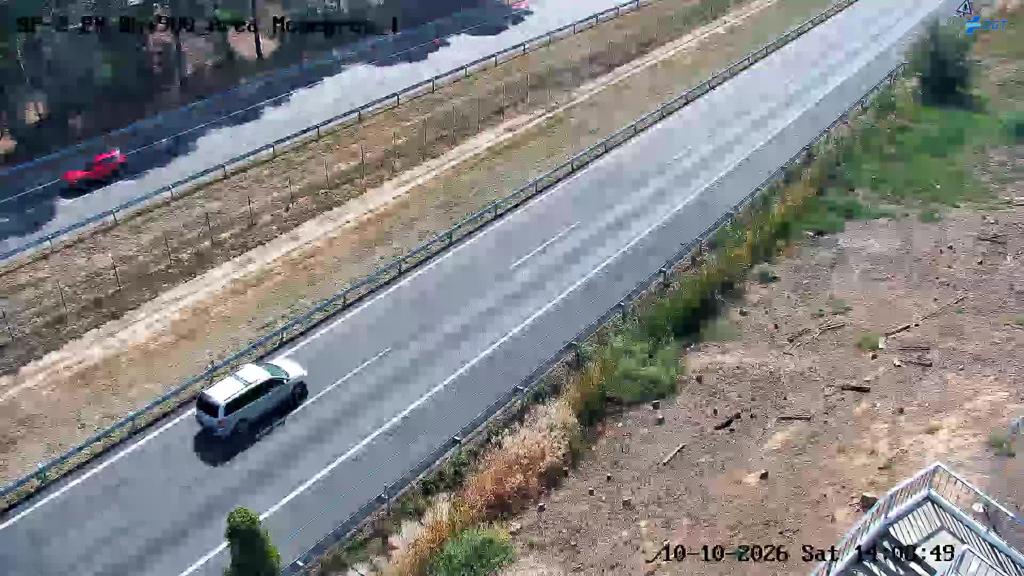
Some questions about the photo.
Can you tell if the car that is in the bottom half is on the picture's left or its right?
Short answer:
left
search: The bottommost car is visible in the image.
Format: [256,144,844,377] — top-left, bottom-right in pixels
[194,359,311,437]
